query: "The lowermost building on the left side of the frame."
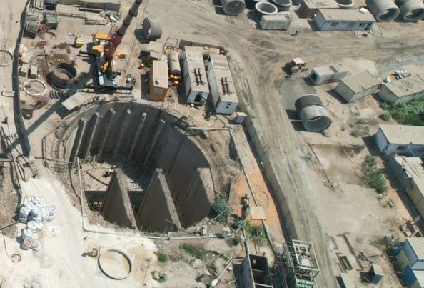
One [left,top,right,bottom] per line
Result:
[144,58,168,102]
